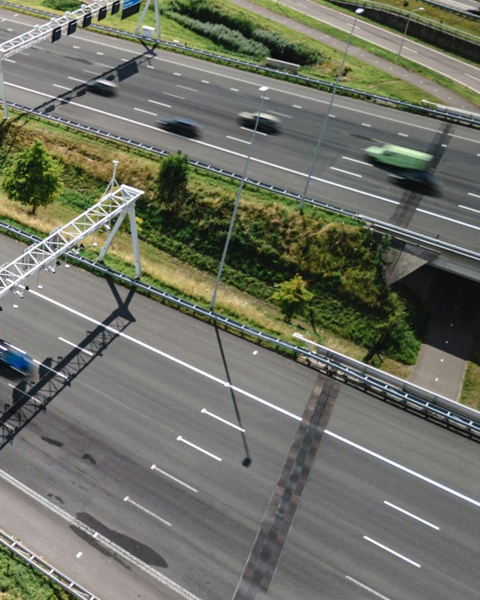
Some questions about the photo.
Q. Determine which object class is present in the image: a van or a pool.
van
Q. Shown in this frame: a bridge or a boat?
bridge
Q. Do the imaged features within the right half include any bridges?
Yes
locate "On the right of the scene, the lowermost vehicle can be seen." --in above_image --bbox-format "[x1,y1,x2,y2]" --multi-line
[390,171,446,196]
